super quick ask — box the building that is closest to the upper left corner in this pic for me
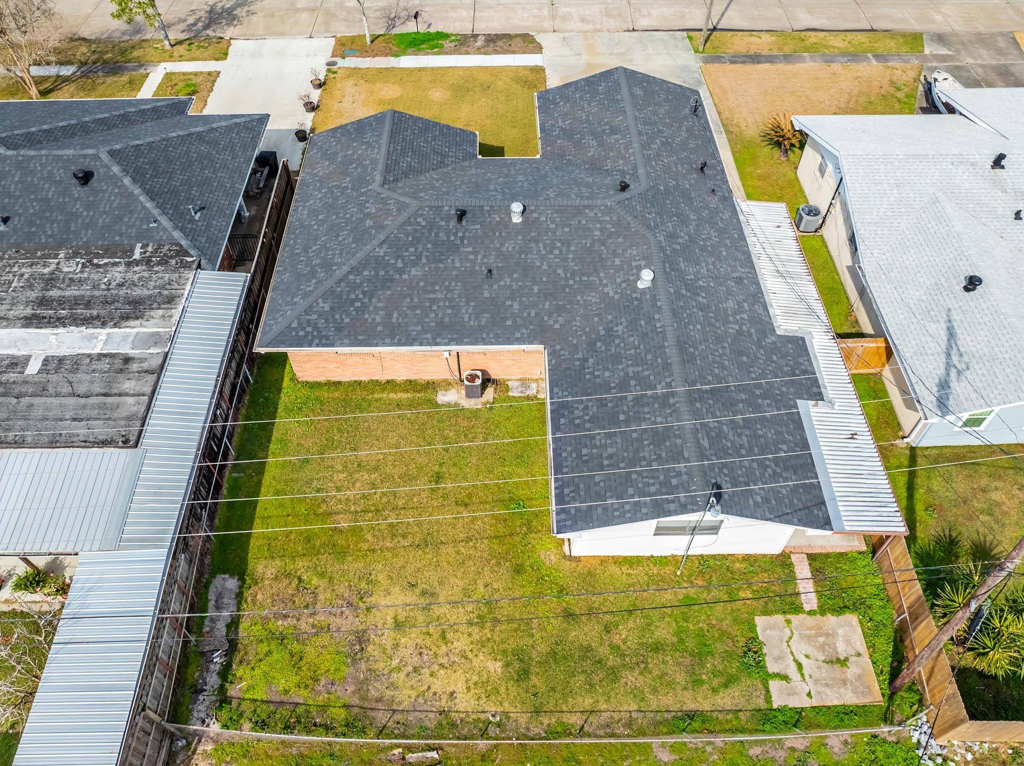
[0,97,271,455]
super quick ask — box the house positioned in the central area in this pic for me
[252,63,835,557]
